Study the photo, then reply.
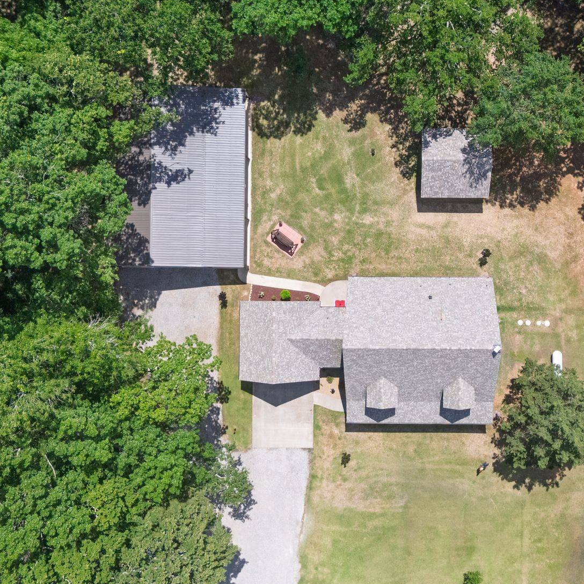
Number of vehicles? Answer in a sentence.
There are no vehicles in the image.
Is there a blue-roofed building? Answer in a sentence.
No, the frame has no blue-roofed building in it.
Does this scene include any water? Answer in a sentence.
No, water can't be seen anywhere here.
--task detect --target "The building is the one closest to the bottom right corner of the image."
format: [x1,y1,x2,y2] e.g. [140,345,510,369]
[342,275,501,425]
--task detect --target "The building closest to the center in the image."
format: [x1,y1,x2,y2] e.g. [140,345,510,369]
[239,301,345,384]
